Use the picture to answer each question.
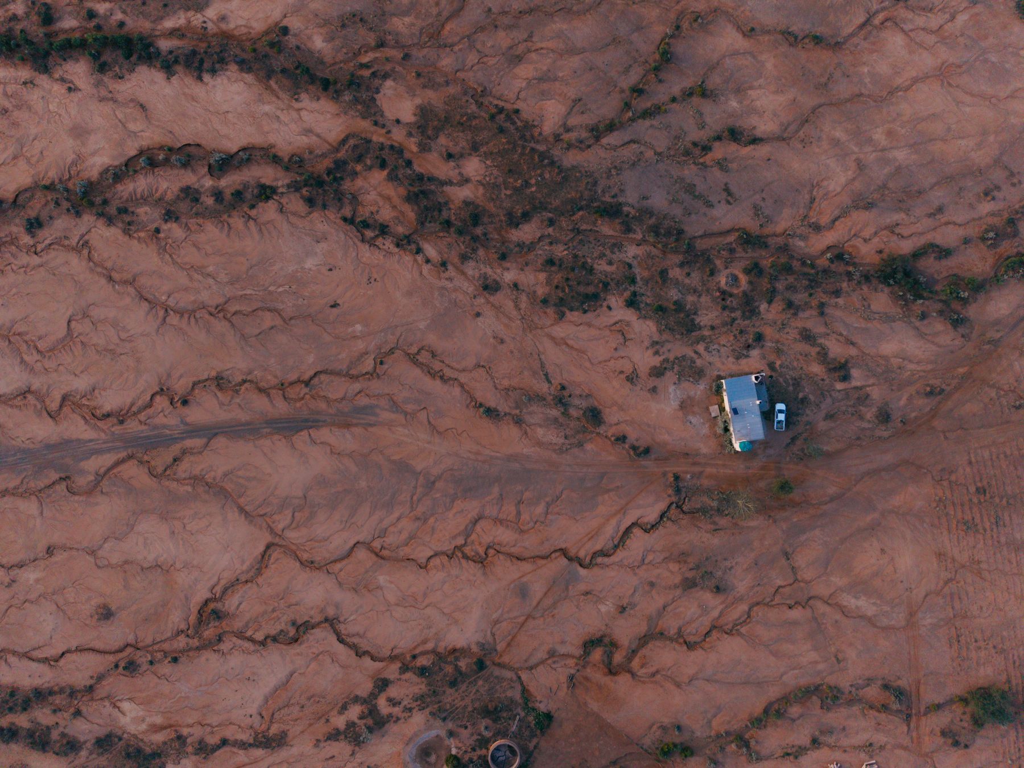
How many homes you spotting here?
1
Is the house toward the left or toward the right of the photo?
right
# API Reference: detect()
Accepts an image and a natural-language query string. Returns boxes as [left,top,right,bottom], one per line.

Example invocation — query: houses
[718,373,770,451]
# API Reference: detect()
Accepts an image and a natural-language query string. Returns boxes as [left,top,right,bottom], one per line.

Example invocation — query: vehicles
[773,403,787,432]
